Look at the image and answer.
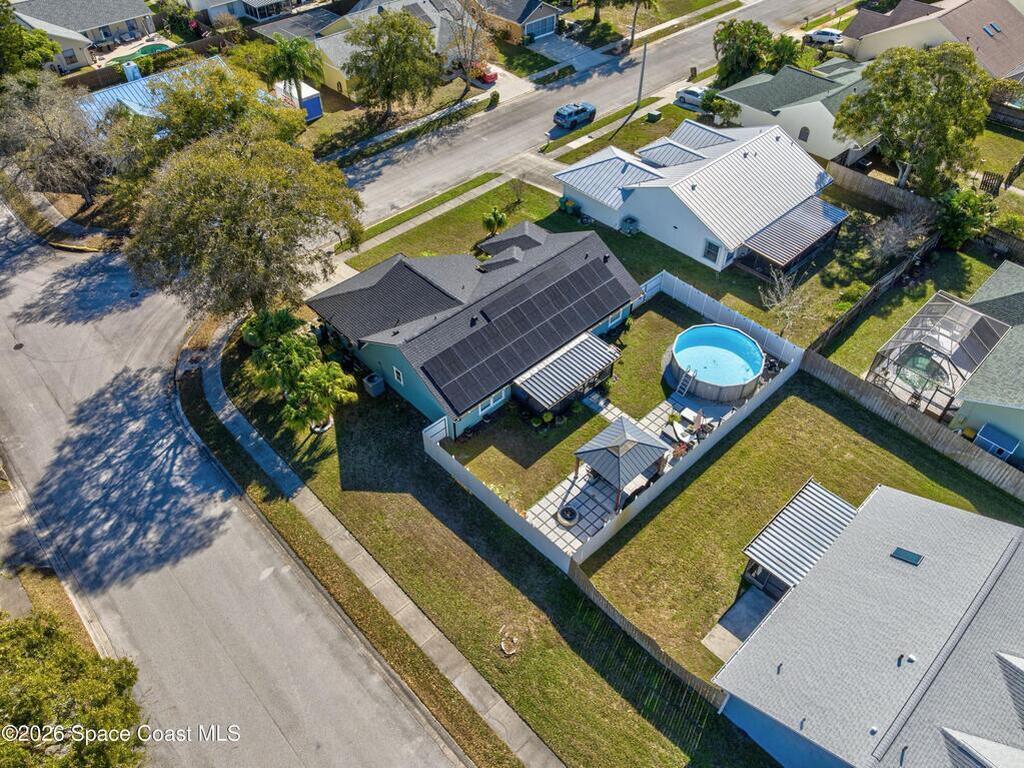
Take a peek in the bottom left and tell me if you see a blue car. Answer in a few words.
No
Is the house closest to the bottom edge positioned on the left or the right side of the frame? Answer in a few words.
right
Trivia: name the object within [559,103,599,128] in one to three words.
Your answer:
car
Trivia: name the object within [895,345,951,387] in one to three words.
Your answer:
swimming pool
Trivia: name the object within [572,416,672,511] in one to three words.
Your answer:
gazebo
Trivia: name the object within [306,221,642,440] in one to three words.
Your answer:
house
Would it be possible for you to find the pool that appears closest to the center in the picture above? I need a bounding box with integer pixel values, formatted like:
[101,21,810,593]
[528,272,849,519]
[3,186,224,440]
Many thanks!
[670,324,765,399]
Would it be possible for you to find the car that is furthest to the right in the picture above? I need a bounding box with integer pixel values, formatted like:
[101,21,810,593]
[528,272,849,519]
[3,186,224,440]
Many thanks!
[803,27,842,47]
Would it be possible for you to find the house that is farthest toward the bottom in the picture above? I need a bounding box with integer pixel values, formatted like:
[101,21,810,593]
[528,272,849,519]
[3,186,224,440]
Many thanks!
[709,483,1024,768]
